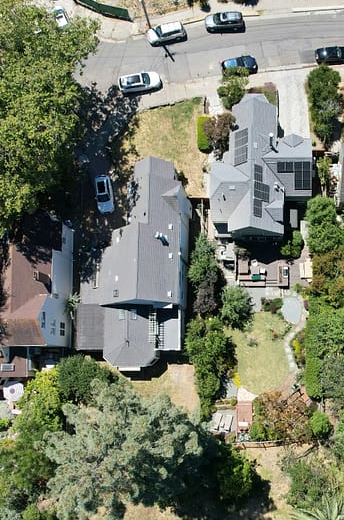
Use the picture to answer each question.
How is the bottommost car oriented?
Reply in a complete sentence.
Seen from above, the bottommost car lies vertically.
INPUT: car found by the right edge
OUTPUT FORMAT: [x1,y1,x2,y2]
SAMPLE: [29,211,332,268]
[313,46,344,65]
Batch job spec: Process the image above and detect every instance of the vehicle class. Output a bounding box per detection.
[146,22,188,46]
[118,71,160,94]
[313,46,344,65]
[50,7,72,32]
[95,175,115,214]
[205,12,246,34]
[222,56,258,73]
